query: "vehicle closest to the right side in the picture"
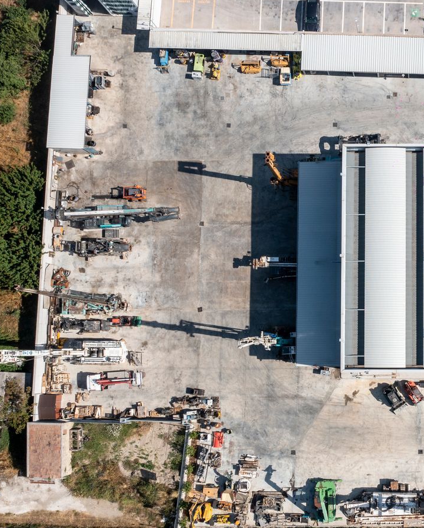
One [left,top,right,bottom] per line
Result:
[403,382,424,408]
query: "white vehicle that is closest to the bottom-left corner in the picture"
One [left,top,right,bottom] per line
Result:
[87,371,142,391]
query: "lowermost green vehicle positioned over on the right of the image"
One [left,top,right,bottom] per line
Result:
[310,478,343,525]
